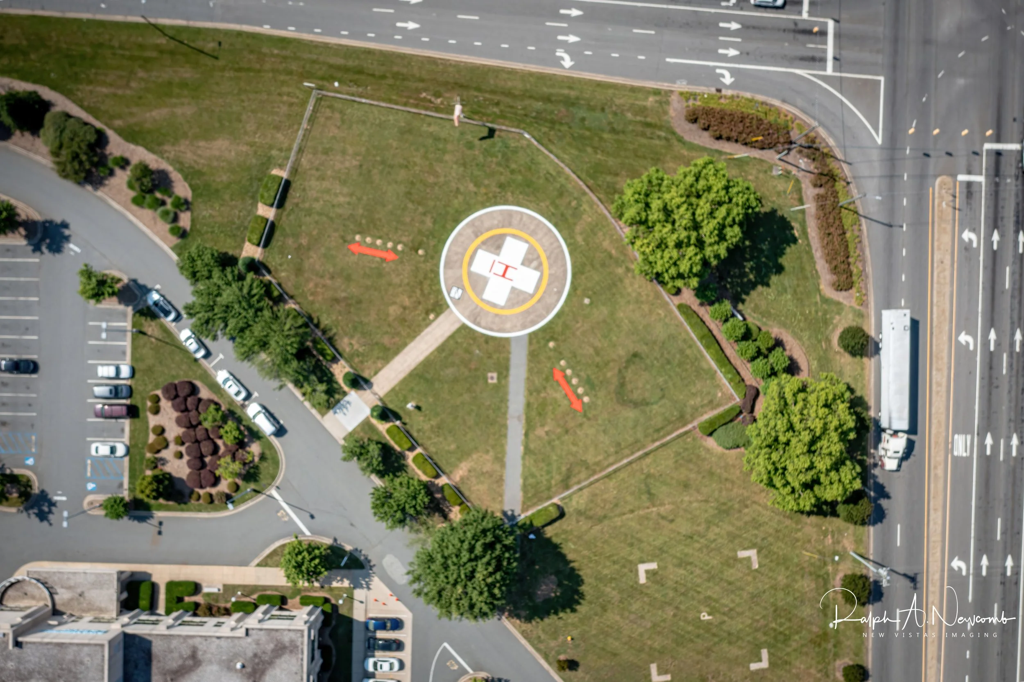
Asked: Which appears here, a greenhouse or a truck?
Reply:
truck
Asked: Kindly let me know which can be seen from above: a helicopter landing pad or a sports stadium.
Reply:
helicopter landing pad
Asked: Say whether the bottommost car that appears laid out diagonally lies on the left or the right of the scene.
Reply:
left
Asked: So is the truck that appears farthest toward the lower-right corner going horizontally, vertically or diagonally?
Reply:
vertically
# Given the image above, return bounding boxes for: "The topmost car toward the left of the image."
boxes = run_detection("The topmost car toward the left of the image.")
[151,288,181,324]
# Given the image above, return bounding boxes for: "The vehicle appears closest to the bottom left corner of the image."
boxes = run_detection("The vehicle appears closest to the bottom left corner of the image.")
[90,442,127,458]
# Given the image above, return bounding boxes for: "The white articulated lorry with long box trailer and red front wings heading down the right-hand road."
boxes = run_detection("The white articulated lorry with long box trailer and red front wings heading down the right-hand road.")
[877,309,911,472]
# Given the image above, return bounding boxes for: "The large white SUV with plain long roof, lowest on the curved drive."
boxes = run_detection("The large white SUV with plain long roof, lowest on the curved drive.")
[248,400,280,438]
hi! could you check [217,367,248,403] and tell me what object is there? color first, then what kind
white car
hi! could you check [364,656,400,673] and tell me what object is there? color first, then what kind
white car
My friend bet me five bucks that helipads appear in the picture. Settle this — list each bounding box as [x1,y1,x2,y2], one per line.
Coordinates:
[440,205,571,337]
